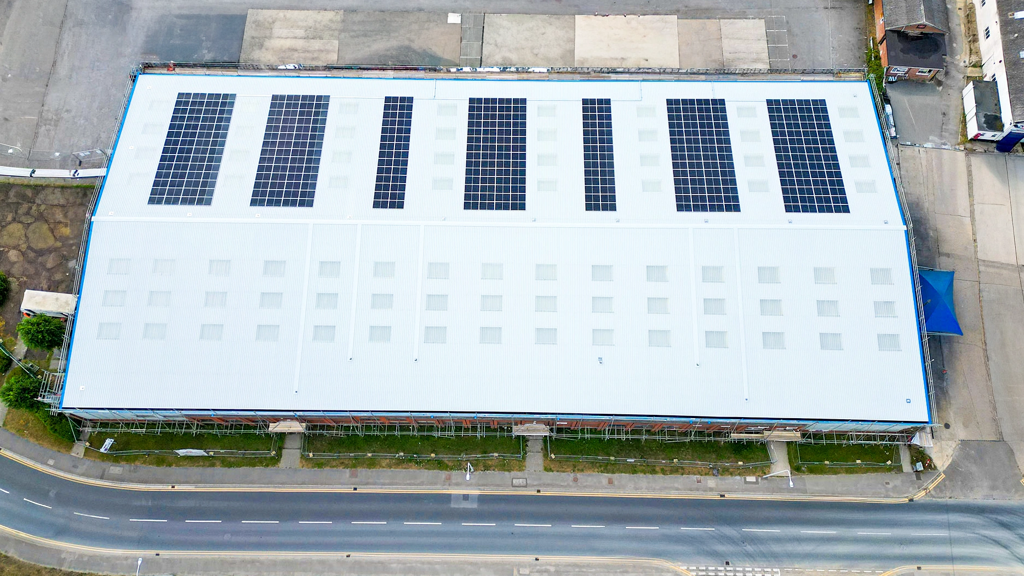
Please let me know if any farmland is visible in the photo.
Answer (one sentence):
No, no farmland is visible.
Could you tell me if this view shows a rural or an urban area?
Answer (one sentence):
It looks urban.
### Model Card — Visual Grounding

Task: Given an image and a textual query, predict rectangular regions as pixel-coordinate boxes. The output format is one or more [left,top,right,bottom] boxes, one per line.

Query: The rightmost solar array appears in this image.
[767,100,851,214]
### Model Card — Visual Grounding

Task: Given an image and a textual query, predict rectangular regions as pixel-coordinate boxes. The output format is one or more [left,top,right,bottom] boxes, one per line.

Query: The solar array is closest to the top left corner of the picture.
[147,94,236,206]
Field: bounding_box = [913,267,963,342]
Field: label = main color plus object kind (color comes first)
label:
blue gazebo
